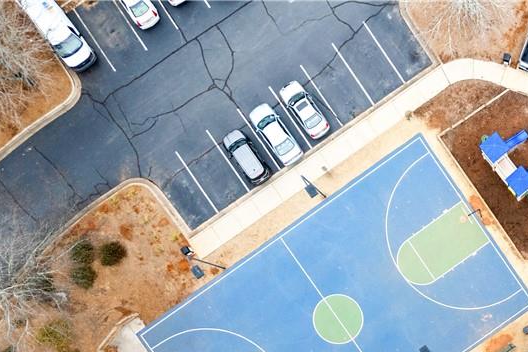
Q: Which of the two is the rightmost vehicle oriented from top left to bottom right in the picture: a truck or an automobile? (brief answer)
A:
automobile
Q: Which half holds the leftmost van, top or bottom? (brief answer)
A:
top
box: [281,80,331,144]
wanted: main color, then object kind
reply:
white car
